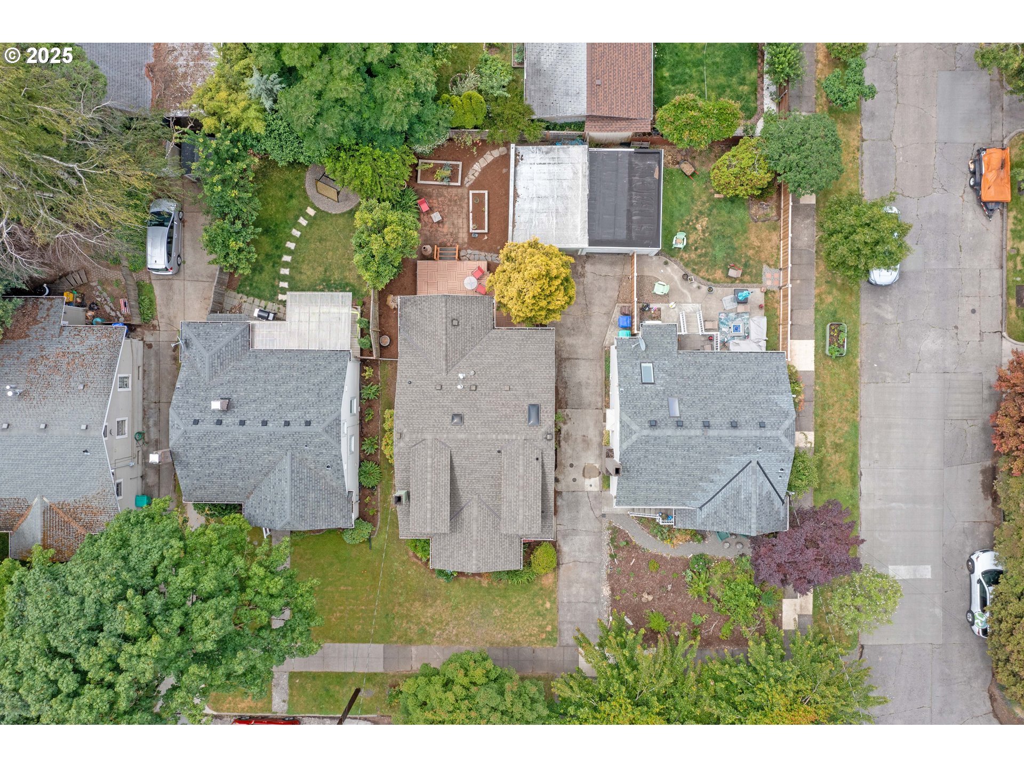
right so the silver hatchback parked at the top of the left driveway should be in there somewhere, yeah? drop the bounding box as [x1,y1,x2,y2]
[145,199,183,273]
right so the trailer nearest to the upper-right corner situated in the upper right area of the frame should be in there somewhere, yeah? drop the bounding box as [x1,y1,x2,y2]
[961,143,1011,231]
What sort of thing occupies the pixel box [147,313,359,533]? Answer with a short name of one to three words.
house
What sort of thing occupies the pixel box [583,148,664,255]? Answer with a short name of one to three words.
building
